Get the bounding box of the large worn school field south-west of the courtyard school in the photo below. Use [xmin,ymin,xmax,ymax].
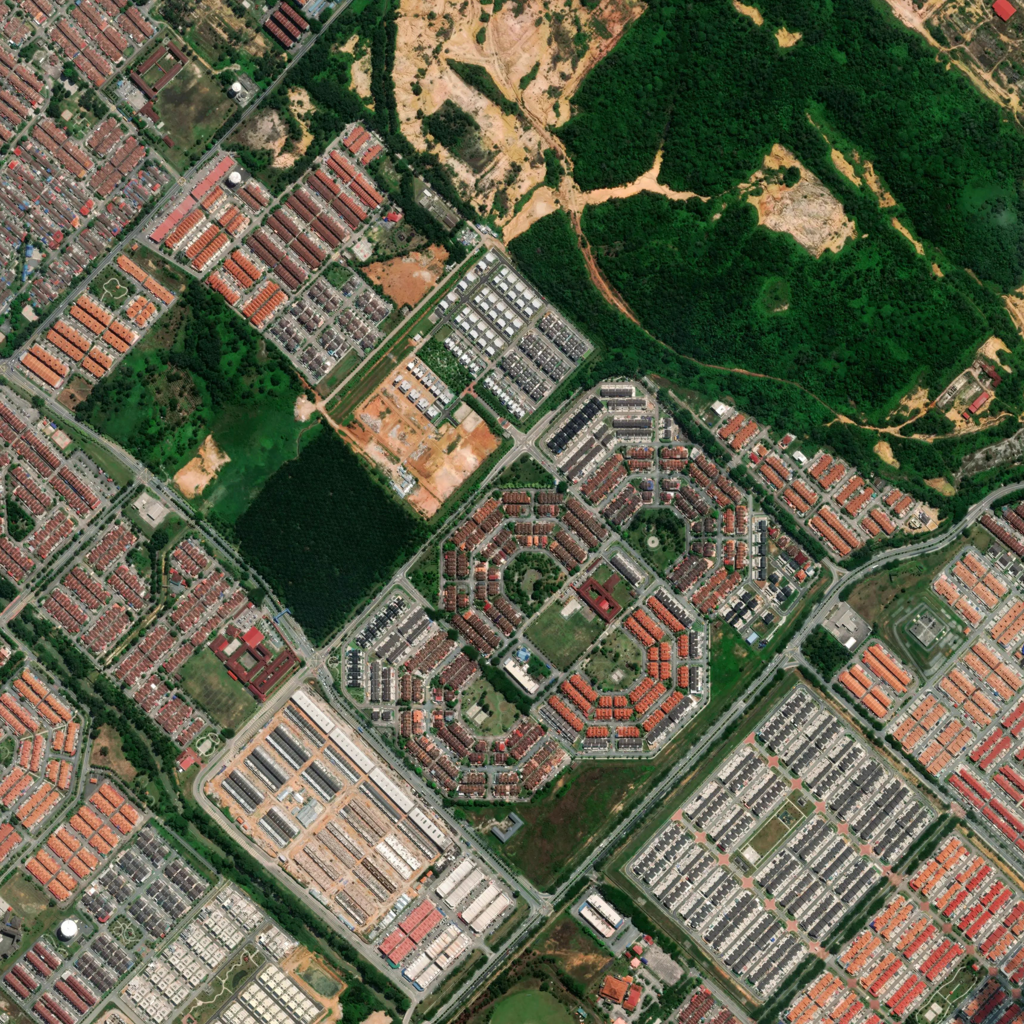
[530,606,603,670]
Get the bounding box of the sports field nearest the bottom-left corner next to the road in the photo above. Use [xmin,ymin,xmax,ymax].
[182,649,256,729]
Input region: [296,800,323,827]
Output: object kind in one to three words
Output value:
shed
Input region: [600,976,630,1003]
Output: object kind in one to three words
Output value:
building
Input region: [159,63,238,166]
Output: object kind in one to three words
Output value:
sports field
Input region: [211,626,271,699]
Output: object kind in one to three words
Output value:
building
